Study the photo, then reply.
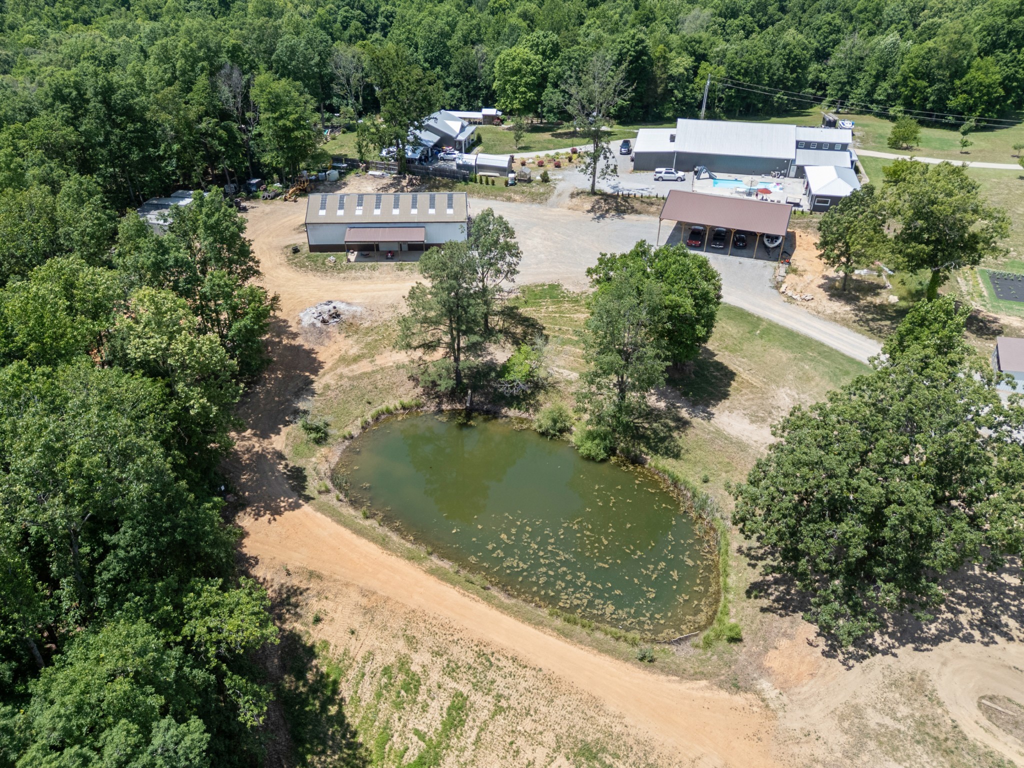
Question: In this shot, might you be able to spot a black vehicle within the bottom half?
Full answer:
No, no black vehicle appears within the bottom half.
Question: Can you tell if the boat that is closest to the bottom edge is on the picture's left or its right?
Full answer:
The boat that is closest to the bottom edge appears in the right half of the scene.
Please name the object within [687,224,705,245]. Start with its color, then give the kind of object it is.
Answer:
black vehicle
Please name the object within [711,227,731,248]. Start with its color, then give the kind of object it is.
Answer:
black vehicle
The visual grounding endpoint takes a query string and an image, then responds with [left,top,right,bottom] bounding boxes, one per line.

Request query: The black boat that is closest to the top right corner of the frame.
[761,233,782,264]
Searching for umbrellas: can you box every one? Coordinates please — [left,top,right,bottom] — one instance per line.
[742,172,765,196]
[757,180,777,198]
